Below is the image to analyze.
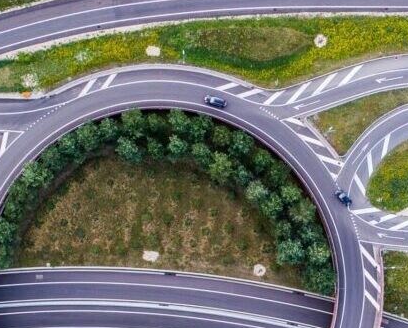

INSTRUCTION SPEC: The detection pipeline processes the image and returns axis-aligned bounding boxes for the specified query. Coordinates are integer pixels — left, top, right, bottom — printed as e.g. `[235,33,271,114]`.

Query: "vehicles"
[204,94,227,108]
[332,188,354,207]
